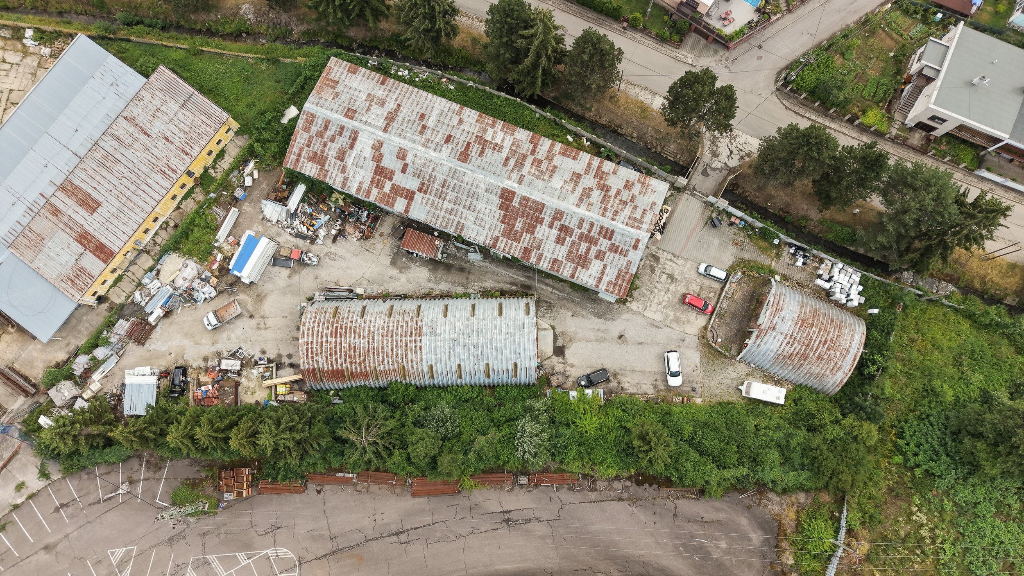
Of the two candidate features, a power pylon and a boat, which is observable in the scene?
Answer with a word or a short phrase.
power pylon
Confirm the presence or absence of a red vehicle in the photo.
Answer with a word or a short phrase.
Yes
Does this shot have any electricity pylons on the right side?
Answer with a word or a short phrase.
No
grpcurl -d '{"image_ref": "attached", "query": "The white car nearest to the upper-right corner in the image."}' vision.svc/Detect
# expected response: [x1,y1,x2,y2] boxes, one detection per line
[694,261,733,285]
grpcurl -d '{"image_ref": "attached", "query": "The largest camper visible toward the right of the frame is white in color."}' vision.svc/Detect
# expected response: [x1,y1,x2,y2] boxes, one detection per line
[732,379,789,405]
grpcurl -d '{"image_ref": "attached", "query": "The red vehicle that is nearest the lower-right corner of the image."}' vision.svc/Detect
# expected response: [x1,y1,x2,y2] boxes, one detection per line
[680,291,717,316]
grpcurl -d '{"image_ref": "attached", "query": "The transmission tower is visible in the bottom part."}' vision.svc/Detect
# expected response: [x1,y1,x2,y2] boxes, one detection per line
[157,497,216,540]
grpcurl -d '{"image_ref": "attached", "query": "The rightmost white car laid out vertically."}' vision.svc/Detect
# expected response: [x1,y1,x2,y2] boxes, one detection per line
[664,349,683,387]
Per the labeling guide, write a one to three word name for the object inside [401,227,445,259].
shed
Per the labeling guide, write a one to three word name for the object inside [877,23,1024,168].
house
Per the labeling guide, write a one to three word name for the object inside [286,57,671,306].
building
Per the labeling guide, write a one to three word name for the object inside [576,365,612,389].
car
